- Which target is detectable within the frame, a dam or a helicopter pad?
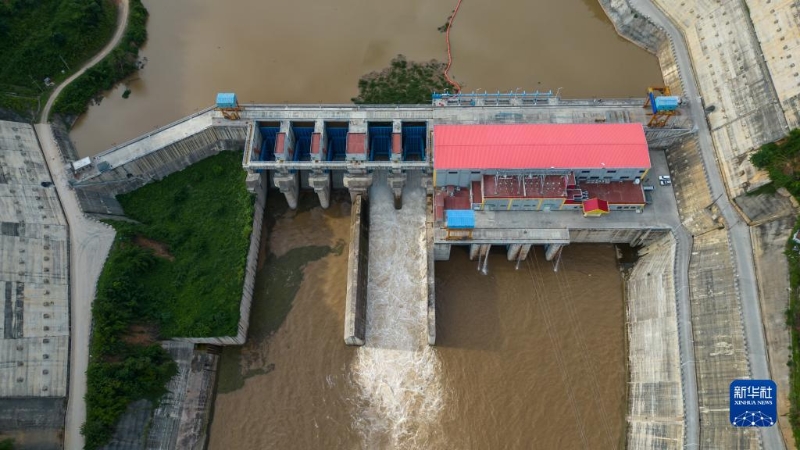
dam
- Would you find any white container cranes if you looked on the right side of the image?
No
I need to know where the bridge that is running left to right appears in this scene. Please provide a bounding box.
[244,104,435,122]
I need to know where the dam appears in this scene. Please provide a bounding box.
[73,89,700,209]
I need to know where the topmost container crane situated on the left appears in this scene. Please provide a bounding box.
[216,94,244,120]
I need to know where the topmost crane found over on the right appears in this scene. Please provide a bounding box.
[636,86,682,125]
